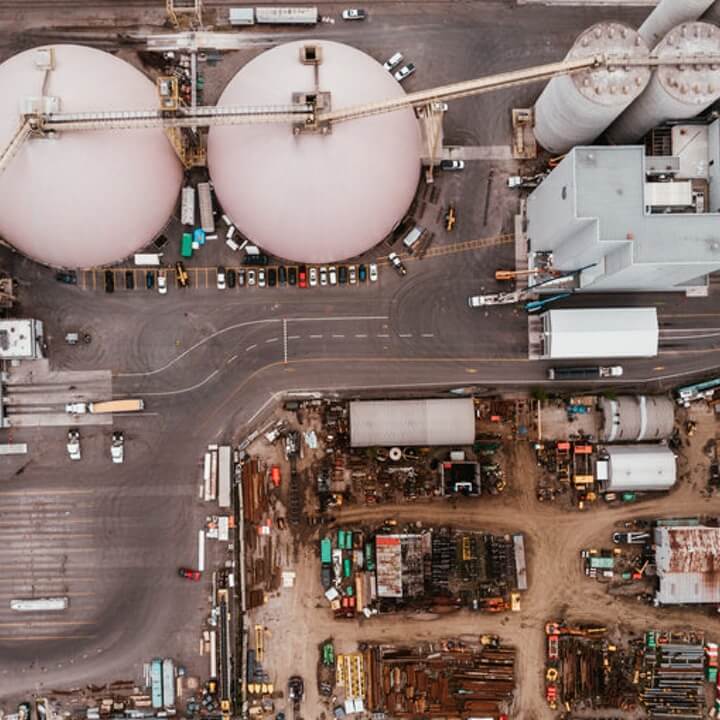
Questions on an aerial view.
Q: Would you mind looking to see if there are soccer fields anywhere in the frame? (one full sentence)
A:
No, I find no soccer field anywhere in the image.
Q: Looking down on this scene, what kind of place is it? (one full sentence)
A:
What you see here is an industrial area.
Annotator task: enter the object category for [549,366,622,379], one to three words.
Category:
vehicle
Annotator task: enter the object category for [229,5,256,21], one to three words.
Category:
rail car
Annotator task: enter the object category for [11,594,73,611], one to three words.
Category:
trailer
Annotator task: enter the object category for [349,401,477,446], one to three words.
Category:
shed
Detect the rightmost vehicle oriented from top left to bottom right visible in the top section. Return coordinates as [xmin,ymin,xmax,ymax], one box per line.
[387,250,409,277]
